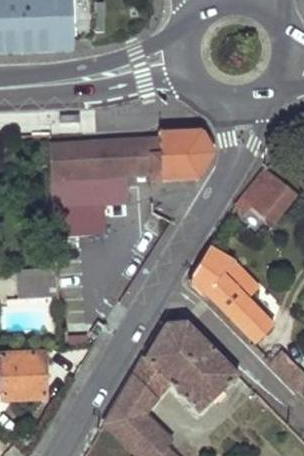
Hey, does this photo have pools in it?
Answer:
Yes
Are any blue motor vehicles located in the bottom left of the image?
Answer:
No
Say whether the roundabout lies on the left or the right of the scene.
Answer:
right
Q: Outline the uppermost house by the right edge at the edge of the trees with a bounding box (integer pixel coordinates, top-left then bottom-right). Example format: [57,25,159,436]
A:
[236,167,300,226]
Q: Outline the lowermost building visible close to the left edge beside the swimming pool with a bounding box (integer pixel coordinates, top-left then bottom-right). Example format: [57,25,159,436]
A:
[0,350,50,405]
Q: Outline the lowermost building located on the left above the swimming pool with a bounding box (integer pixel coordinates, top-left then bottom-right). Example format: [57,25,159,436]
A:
[17,268,56,298]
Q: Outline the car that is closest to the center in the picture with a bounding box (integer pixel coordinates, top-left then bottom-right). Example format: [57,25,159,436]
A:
[136,230,155,254]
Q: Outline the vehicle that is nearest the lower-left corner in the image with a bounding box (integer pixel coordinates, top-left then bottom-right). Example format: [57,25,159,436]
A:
[49,376,64,396]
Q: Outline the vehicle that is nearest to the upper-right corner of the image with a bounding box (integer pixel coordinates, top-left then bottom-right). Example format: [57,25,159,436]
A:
[285,24,304,46]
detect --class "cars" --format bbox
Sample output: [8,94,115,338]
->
[136,230,155,254]
[200,7,220,19]
[130,322,147,343]
[74,84,96,95]
[288,342,304,362]
[52,352,74,372]
[91,386,109,409]
[60,276,81,287]
[49,376,64,396]
[124,257,142,278]
[254,88,275,99]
